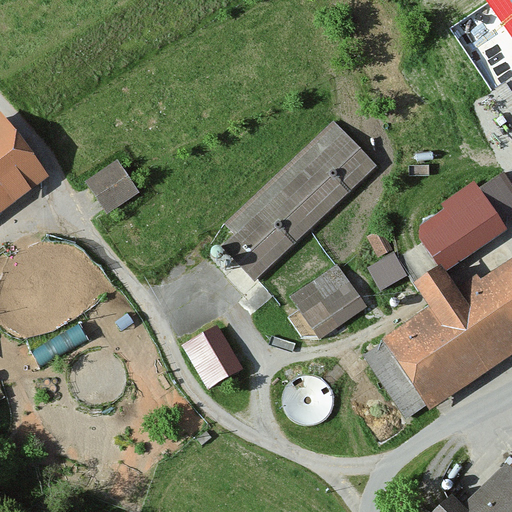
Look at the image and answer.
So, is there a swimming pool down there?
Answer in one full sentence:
No, the picture doesn't show any swimming pool.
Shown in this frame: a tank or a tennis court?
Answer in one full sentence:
There is a tank in the scene.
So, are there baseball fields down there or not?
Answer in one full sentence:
No, the frame has no baseball field in it.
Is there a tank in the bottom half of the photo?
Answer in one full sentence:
Yes, the scene does show a tank in the bottom half of the photo.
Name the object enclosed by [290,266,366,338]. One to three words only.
barn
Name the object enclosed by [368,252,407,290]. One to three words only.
shed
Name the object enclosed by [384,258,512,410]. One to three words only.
house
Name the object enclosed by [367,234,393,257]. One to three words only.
shed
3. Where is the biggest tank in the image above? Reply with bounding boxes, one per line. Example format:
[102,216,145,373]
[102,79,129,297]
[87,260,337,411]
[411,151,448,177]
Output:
[282,374,334,426]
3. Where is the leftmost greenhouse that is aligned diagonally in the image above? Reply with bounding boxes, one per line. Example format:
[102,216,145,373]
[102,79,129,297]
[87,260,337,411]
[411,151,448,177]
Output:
[30,322,90,368]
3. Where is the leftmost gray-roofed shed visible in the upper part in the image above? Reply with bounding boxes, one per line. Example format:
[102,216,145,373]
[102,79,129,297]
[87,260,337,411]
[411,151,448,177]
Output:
[86,160,138,213]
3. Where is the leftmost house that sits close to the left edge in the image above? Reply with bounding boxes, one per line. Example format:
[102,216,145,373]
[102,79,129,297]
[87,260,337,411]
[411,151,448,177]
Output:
[0,110,48,212]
